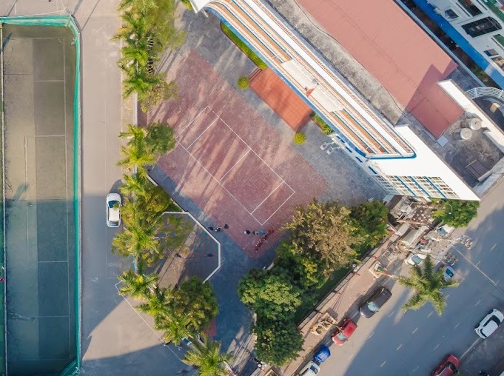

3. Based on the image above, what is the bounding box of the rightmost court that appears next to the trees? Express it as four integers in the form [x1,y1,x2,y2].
[148,49,335,258]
